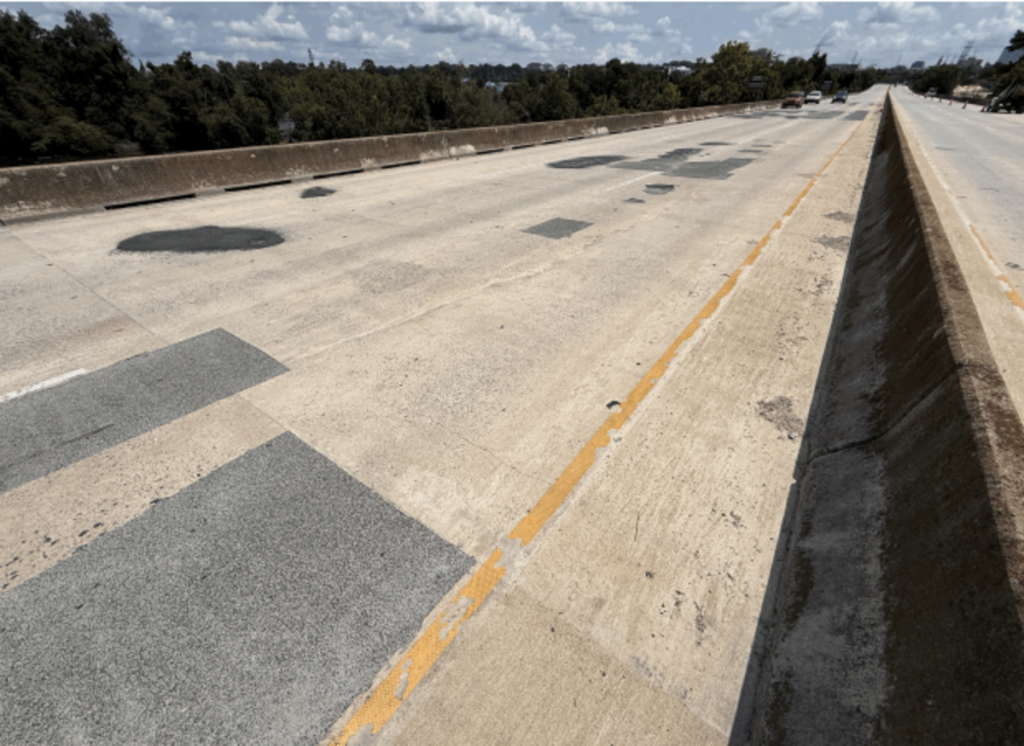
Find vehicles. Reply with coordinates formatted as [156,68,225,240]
[784,89,808,107]
[833,90,850,102]
[984,70,1024,112]
[923,88,937,96]
[807,90,824,102]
